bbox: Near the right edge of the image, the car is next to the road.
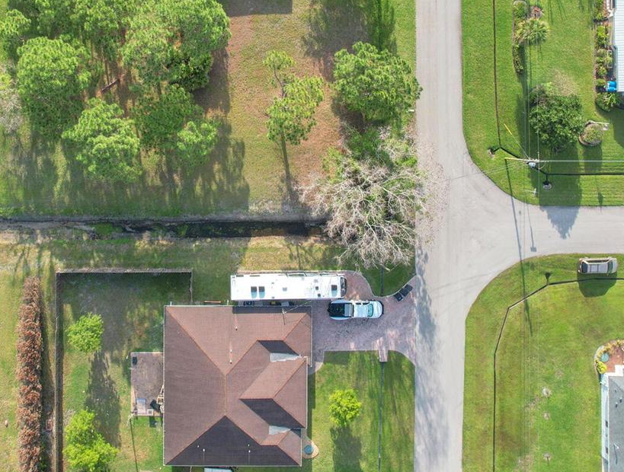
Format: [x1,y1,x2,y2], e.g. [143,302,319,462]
[576,256,614,274]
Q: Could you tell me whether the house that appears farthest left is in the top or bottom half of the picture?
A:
bottom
